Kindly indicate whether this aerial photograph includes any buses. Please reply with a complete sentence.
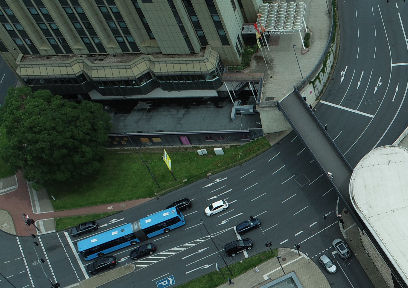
Yes, this view includes a bus.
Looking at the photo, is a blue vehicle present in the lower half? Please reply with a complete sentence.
Yes, in the lower half there is a blue vehicle.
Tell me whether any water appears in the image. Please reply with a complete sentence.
No, the picture contains no water.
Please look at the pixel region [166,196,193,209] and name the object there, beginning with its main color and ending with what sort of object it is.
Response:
black vehicle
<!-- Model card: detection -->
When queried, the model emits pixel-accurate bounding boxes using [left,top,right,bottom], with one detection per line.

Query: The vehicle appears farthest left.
[70,218,98,236]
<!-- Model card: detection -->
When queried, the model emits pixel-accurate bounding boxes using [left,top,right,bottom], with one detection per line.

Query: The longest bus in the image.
[78,205,187,257]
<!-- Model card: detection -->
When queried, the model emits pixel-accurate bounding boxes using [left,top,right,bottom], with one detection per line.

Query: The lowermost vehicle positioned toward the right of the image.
[317,253,335,272]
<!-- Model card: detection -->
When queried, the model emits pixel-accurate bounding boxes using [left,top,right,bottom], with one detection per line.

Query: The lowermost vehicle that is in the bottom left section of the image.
[87,255,116,275]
